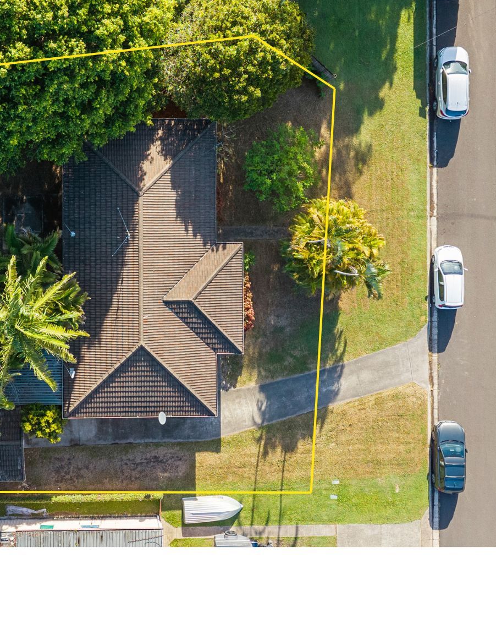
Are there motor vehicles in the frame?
Yes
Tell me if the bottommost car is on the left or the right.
right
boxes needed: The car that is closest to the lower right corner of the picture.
[428,419,469,494]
